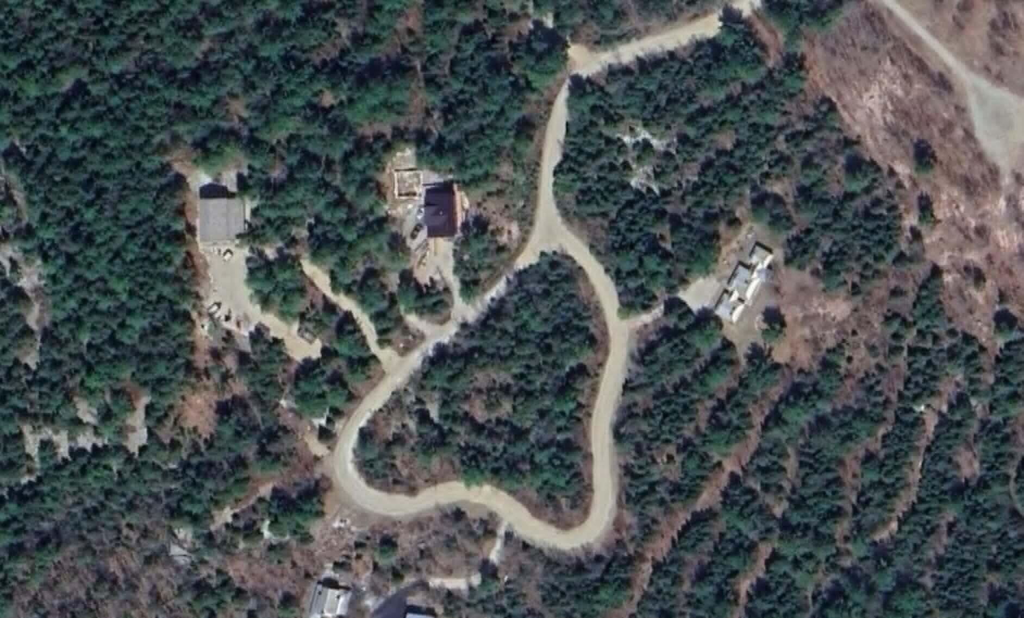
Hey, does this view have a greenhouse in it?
No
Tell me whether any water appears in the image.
No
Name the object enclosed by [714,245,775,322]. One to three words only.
house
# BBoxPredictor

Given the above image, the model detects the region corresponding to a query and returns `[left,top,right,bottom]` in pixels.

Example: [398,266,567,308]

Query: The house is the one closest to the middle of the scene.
[426,187,465,237]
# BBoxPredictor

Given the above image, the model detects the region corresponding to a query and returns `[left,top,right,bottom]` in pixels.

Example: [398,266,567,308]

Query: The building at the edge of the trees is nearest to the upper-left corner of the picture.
[199,198,245,239]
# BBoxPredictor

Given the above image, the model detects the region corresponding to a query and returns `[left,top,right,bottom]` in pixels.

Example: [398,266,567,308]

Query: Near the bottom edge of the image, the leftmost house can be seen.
[311,583,352,618]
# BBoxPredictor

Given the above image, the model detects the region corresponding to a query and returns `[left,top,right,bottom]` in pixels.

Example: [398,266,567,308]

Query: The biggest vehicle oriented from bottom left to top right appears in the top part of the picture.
[408,223,423,239]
